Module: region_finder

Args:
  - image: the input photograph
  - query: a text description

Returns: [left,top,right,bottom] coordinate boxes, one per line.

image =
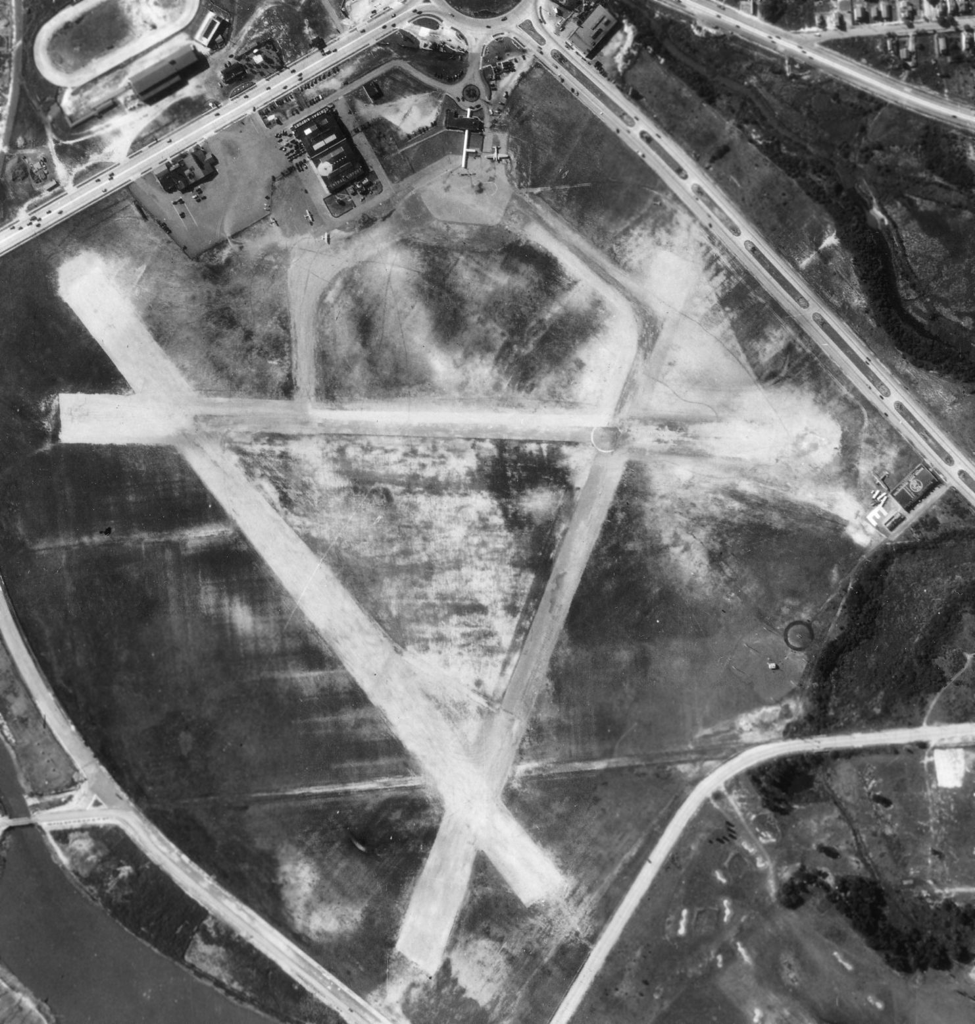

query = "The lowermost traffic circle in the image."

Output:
[455,77,487,109]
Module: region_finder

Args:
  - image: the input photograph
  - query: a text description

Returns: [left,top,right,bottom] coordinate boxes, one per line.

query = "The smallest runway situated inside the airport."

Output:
[398,455,627,973]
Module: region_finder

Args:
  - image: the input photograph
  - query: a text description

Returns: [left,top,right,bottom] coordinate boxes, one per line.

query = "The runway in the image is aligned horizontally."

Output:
[59,395,841,467]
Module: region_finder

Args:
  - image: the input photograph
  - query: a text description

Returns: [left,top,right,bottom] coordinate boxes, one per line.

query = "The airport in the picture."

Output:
[58,119,911,973]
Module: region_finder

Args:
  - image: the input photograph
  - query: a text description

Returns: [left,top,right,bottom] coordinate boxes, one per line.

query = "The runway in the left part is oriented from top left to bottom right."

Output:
[58,254,561,905]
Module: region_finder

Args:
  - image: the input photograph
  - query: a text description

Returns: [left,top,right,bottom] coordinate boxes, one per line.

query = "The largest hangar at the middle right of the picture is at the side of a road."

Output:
[891,465,937,510]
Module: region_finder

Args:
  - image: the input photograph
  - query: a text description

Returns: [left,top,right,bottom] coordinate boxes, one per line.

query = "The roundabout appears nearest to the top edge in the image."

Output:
[424,0,545,35]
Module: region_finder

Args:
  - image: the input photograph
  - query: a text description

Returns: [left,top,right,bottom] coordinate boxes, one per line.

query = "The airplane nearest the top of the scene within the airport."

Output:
[484,144,509,161]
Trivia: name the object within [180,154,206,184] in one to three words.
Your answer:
house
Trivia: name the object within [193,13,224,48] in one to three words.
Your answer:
building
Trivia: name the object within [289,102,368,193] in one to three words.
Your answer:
hangar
